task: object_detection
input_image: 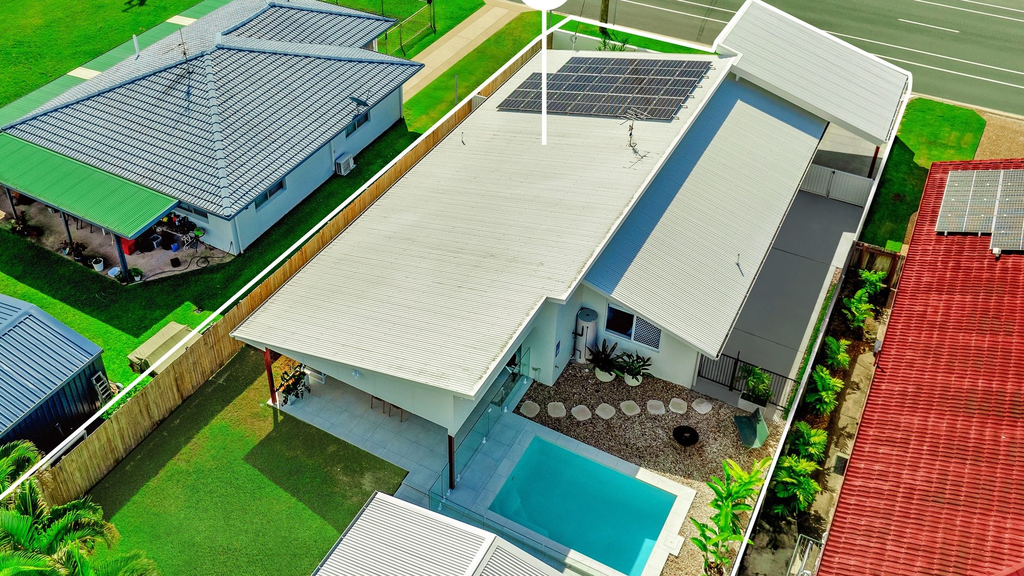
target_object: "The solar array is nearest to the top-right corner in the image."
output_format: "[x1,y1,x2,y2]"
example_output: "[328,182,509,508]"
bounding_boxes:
[935,164,1024,257]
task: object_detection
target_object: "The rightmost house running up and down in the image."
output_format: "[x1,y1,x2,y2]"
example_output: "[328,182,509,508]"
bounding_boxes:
[810,155,1024,576]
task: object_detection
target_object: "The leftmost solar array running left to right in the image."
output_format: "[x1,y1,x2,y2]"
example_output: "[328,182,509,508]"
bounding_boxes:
[498,55,716,122]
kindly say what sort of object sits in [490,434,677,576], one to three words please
swimming pool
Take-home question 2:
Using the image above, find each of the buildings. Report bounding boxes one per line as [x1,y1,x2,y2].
[307,489,566,576]
[810,155,1024,576]
[0,294,113,508]
[0,0,427,253]
[224,45,831,489]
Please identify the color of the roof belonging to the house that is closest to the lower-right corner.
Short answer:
red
